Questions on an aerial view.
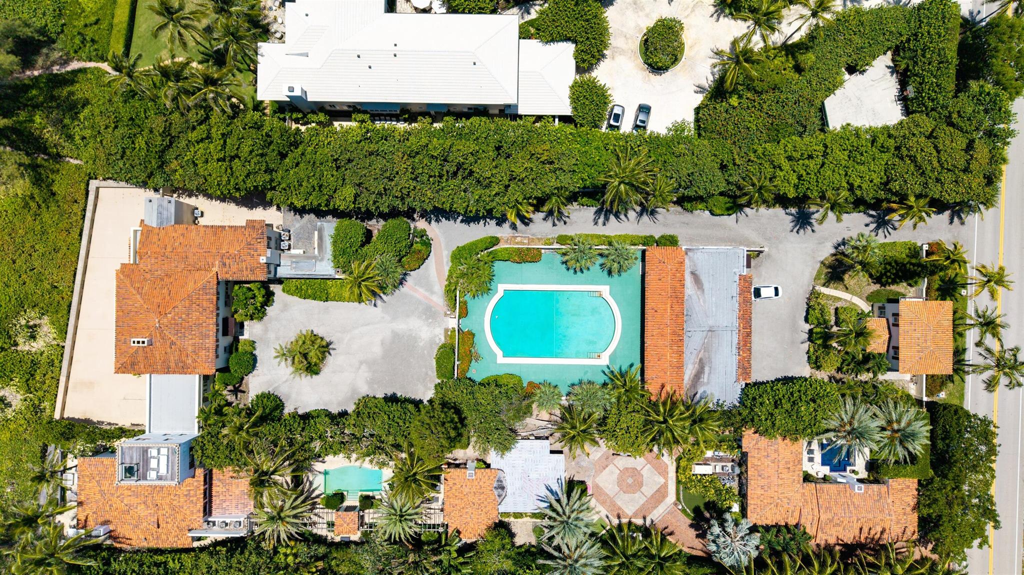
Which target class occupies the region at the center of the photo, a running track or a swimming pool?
swimming pool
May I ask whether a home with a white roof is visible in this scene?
Yes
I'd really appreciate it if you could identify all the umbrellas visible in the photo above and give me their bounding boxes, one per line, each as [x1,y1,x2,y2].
[411,0,434,12]
[432,0,448,13]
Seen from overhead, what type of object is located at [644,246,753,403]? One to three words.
building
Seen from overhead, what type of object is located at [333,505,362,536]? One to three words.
building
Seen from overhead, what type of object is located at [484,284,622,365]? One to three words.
swimming pool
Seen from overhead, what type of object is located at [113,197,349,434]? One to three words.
house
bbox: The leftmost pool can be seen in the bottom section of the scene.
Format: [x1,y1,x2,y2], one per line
[325,466,382,500]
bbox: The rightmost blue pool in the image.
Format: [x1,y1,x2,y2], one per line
[821,443,855,472]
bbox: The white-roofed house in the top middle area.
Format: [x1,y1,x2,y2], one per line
[257,0,575,122]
